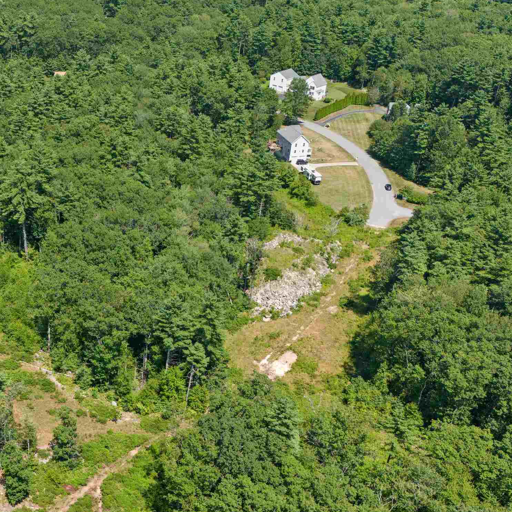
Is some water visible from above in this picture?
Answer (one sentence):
No, the picture contains no water.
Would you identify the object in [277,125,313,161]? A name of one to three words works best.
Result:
house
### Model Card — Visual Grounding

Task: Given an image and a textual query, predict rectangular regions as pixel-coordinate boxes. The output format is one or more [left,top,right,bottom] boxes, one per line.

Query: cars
[383,184,394,190]
[295,157,308,164]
